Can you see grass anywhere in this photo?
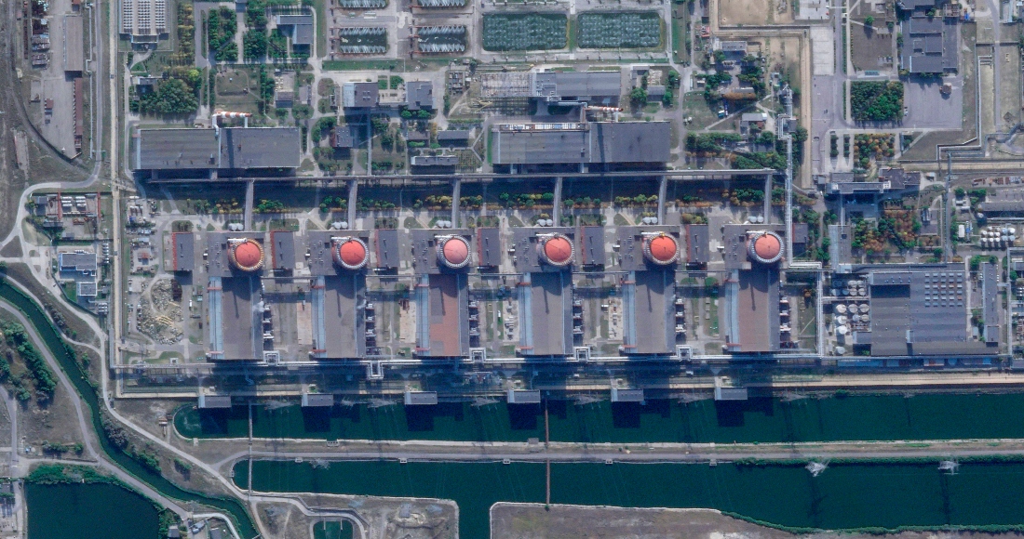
Yes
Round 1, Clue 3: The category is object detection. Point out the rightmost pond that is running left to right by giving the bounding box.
[576,10,663,49]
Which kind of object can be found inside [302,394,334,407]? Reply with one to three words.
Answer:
building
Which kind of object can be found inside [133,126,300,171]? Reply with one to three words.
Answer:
building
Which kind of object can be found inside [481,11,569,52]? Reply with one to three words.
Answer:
pond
